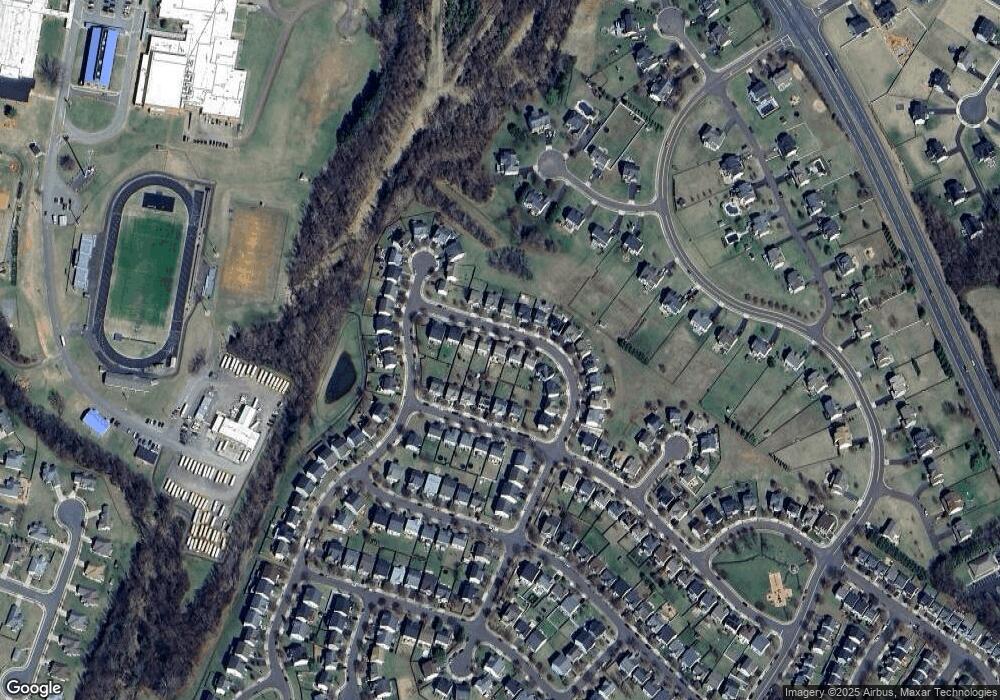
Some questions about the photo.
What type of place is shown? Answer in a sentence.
It's a residential area.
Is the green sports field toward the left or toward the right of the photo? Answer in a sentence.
The green sports field appears in the left half of the scene.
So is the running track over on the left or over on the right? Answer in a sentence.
The running track sits on the left side.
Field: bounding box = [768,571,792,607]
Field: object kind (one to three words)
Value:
playground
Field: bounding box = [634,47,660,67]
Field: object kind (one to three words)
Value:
house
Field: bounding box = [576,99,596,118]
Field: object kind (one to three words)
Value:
swimming pool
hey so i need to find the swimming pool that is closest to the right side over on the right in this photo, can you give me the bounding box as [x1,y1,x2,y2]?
[809,158,827,177]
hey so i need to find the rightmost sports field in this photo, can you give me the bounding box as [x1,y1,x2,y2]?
[219,204,288,303]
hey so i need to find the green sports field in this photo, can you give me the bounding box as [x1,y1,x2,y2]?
[109,216,183,329]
